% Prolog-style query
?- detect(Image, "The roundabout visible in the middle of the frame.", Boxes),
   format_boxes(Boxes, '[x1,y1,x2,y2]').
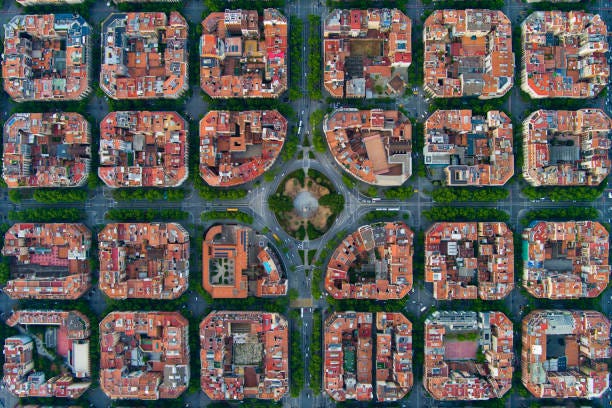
[267,167,345,241]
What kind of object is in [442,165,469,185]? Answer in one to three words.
building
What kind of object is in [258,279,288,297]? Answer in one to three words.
building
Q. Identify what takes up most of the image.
buildings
